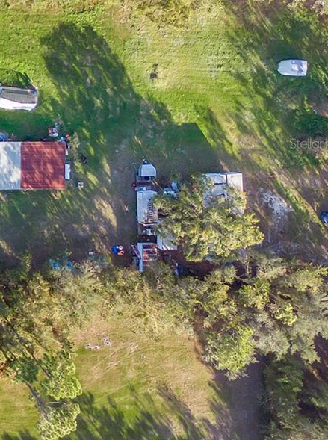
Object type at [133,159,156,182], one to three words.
camper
